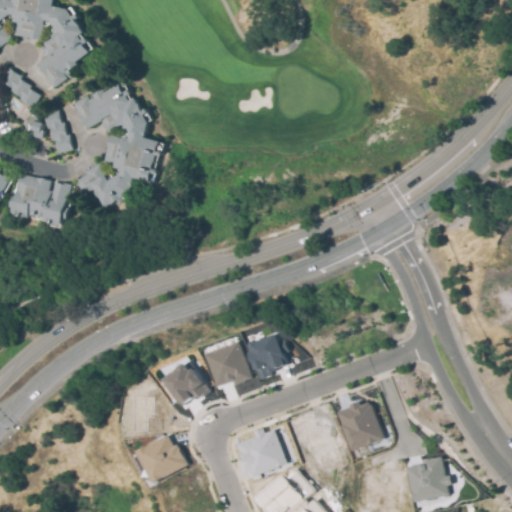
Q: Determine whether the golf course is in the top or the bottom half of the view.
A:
top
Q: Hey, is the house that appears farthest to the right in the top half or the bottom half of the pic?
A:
bottom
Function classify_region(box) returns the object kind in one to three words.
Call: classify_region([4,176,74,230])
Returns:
building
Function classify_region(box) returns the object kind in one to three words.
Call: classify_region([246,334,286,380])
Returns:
house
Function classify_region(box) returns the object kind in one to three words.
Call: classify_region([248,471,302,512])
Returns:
house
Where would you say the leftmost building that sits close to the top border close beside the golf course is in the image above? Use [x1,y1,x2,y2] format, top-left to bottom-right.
[0,0,92,94]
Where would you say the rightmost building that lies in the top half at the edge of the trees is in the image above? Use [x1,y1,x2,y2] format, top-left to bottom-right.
[73,80,164,212]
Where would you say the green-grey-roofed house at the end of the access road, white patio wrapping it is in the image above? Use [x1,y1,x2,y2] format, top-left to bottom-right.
[408,457,450,502]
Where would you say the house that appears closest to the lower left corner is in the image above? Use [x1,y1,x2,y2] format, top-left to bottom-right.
[138,435,188,482]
